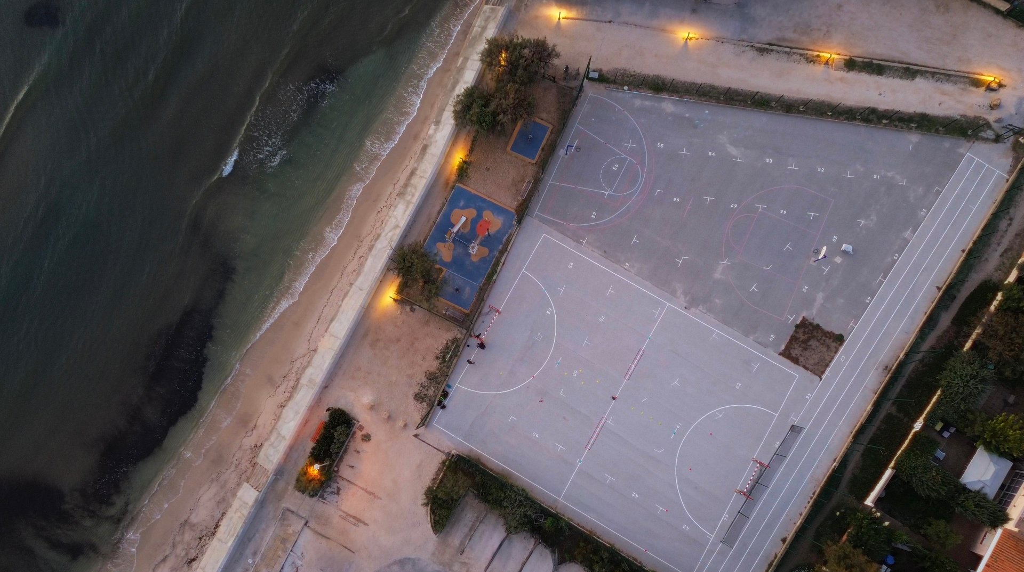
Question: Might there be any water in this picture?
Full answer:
Yes, water shows up in the scene.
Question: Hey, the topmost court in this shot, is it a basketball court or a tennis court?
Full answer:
The topmost court can be classified as a basketball court.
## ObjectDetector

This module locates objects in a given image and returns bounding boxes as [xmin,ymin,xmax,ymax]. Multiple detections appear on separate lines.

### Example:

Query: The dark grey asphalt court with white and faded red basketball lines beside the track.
[527,85,967,379]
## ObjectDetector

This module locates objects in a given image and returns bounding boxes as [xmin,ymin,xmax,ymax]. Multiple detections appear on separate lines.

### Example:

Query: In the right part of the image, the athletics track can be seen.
[704,142,1021,572]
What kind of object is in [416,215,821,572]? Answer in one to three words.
sports court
